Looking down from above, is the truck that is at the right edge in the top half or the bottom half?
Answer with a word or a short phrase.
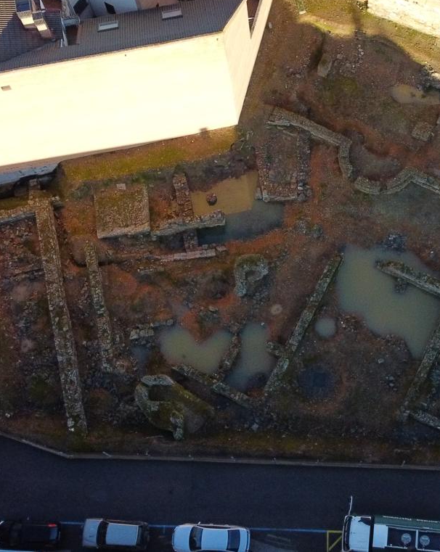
bottom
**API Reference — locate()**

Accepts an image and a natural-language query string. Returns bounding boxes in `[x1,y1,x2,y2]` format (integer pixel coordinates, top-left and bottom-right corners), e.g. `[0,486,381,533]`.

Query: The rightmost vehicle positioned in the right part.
[338,494,440,552]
